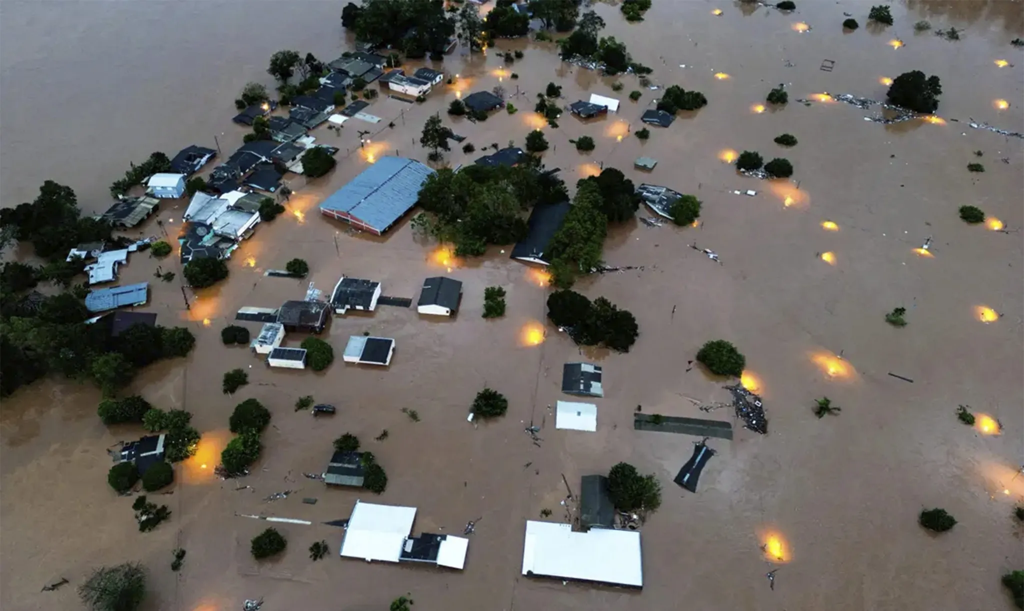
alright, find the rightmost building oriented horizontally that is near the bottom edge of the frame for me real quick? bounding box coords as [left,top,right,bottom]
[523,521,642,588]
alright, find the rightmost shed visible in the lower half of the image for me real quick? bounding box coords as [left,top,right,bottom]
[634,412,734,442]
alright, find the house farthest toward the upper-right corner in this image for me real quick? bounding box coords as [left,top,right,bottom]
[642,110,677,129]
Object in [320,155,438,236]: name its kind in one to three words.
building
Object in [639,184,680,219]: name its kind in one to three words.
house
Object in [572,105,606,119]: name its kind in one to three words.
house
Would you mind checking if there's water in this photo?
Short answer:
Yes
